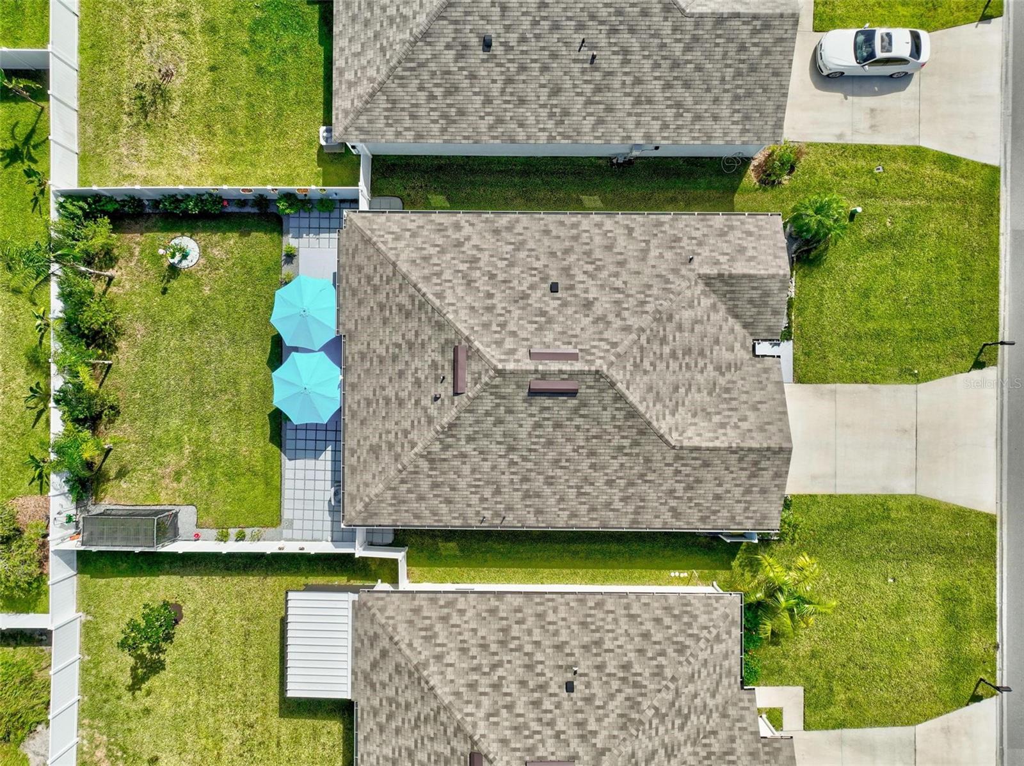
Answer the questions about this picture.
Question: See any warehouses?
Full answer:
No, the scene contains no warehouse.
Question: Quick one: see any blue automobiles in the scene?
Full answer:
No, this view has no blue automobile in it.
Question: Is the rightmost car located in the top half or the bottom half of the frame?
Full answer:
It is in the top half that the rightmost car appears.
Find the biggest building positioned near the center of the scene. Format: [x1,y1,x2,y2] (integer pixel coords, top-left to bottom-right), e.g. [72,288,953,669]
[335,209,794,531]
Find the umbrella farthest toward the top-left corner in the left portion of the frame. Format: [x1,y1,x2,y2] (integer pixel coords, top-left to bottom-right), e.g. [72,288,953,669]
[270,276,339,351]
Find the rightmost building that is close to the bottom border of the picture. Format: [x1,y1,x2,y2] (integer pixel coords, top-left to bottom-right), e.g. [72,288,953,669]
[349,577,795,766]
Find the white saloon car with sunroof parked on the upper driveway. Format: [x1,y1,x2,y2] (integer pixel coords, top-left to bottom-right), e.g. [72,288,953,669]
[815,20,930,80]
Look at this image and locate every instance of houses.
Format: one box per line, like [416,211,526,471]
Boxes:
[330,0,802,161]
[349,577,795,766]
[335,209,794,531]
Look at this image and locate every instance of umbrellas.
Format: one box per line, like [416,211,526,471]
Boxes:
[274,353,342,424]
[270,276,339,351]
